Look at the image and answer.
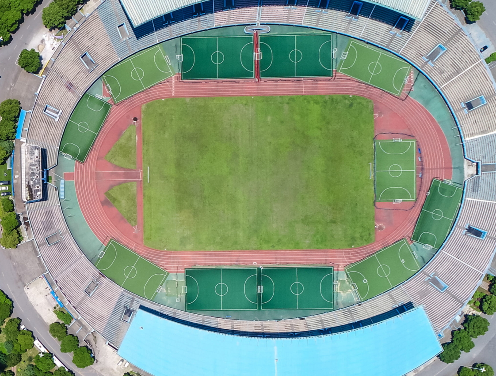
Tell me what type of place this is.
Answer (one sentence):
The area seen from above is a sports ground.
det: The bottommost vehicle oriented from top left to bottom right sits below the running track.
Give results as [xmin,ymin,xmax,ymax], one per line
[52,354,70,370]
